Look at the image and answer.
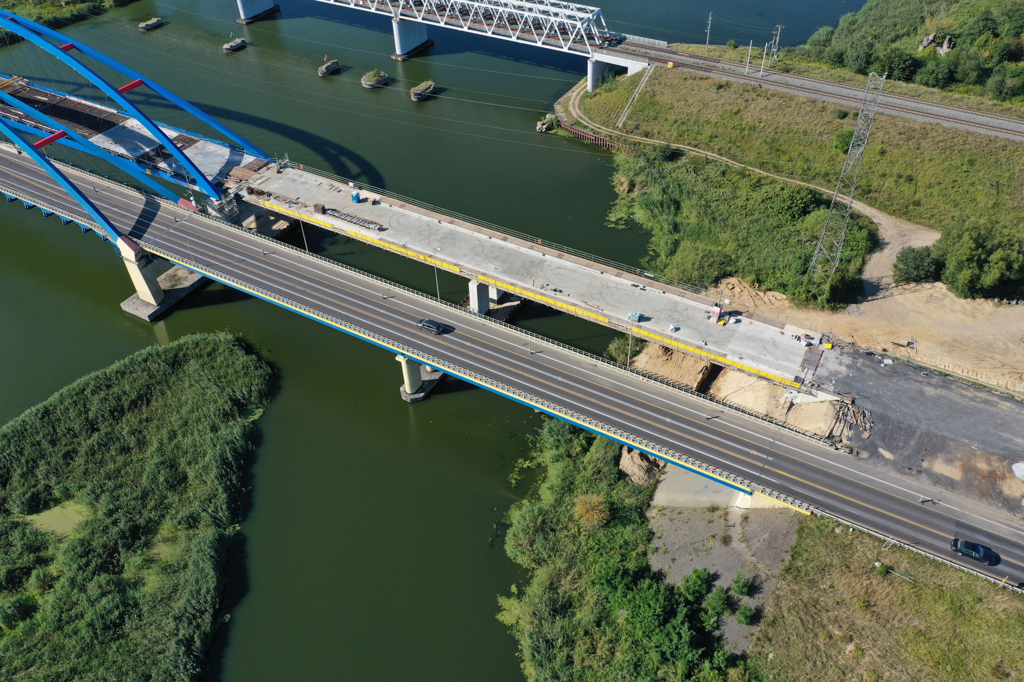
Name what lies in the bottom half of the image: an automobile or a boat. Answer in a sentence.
You can see an automobile in the bottom half of the image.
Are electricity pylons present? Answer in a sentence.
Yes, the image includes an electricity pylon.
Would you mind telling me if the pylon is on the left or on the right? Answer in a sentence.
You can find the pylon on the right side of the picture.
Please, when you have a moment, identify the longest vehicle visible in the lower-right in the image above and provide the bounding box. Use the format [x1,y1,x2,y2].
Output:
[952,537,997,566]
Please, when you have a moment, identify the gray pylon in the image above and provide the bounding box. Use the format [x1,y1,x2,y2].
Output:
[809,70,888,295]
